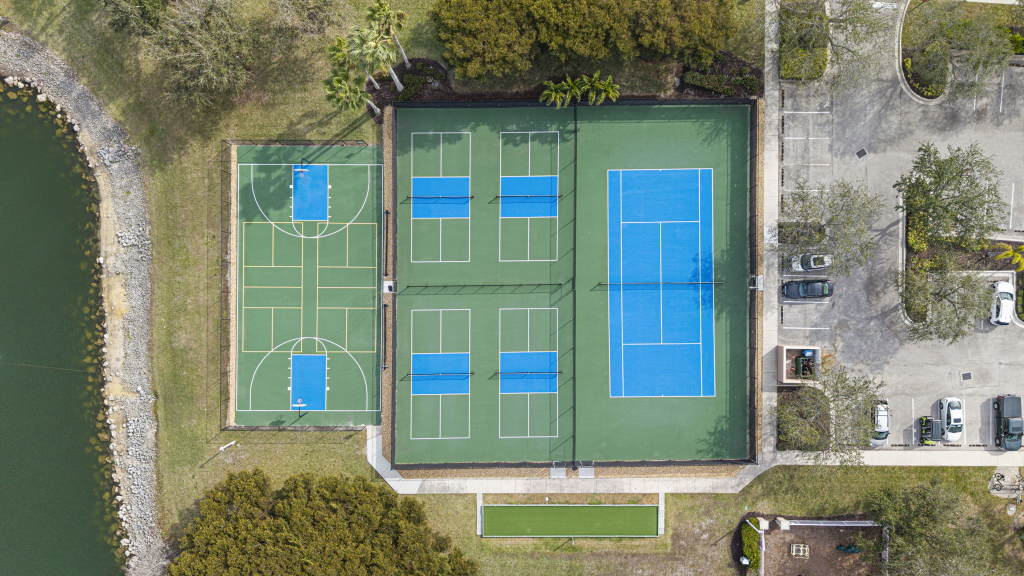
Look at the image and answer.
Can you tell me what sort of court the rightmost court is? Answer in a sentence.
The rightmost court in the image is a tennis court.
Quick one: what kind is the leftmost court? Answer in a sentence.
It looks like the leftmost court is a basketball court.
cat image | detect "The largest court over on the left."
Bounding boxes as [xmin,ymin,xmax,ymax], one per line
[236,145,384,426]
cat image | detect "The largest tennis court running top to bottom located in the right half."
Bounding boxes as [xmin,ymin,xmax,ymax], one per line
[574,104,750,461]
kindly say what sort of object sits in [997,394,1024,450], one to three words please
truck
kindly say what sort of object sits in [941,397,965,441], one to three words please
car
